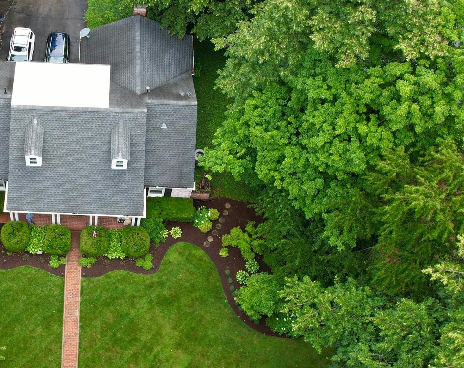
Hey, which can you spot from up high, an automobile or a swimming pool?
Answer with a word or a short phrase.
automobile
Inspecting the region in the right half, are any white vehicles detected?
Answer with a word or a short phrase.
No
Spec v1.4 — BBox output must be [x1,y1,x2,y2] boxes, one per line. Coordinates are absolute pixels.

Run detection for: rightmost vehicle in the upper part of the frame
[45,32,70,60]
